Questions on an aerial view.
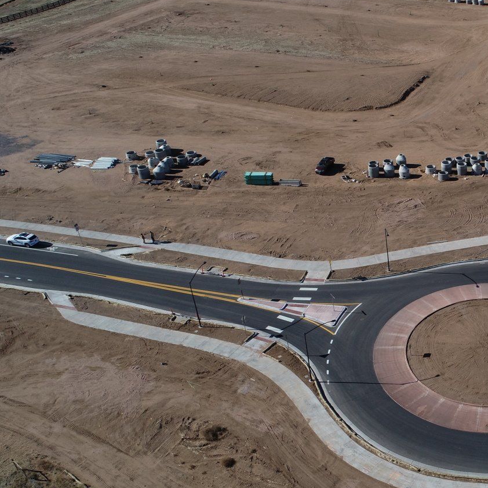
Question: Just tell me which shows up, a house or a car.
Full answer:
Of the two, only a car appears.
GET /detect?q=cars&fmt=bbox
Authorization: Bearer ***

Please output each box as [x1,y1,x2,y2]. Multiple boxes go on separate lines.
[314,155,337,173]
[4,230,40,248]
